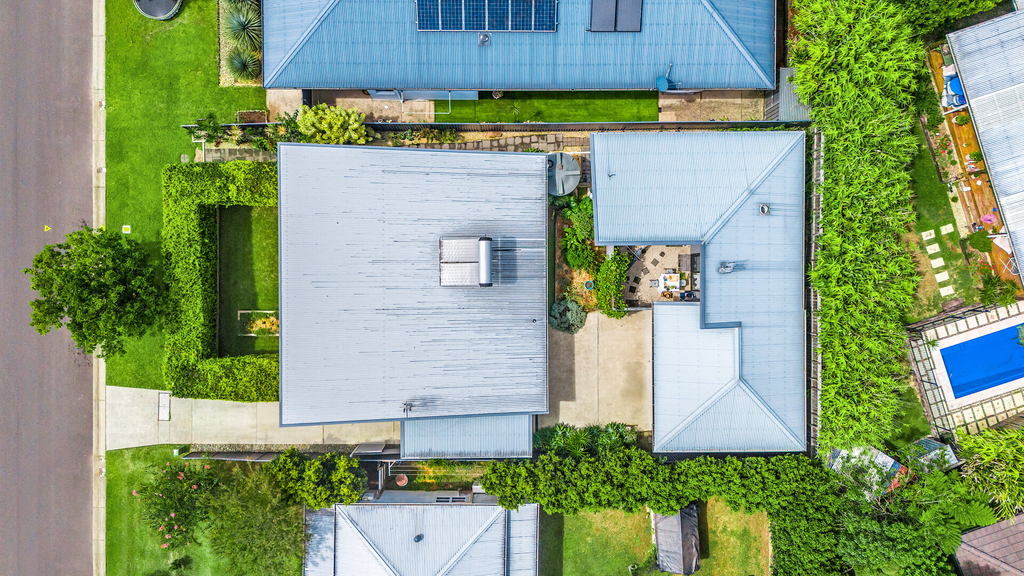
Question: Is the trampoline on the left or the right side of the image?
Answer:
left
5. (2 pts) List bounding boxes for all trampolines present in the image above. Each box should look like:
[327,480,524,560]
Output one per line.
[135,0,185,24]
